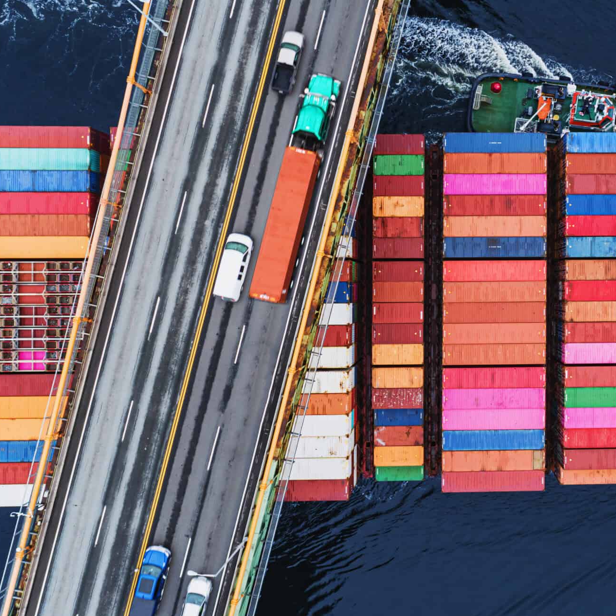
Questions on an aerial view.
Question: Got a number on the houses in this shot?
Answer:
zero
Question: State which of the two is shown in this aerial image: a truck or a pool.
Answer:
truck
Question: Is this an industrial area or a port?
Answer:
port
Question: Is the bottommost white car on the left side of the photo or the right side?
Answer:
left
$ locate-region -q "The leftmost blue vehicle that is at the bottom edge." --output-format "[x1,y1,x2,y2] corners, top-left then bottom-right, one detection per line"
[130,543,174,616]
